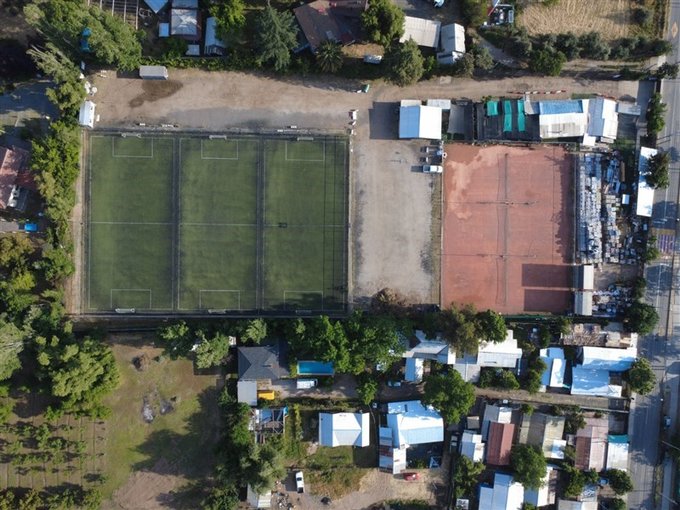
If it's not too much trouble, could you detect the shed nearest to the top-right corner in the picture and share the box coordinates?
[617,103,641,118]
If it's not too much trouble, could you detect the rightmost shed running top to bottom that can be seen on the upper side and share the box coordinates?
[630,147,659,217]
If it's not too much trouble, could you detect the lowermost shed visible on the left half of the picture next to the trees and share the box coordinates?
[247,481,272,509]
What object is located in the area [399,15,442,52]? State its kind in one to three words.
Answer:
shed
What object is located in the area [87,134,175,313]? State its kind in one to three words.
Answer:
soccer field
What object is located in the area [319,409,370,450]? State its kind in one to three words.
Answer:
house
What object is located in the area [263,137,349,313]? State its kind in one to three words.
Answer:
soccer field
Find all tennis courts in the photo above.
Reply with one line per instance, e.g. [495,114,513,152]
[441,144,577,317]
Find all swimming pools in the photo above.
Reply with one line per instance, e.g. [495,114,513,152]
[298,361,333,376]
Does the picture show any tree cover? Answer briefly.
Yes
